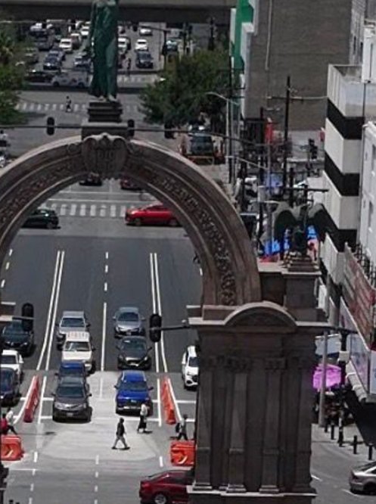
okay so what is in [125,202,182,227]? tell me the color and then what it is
red car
